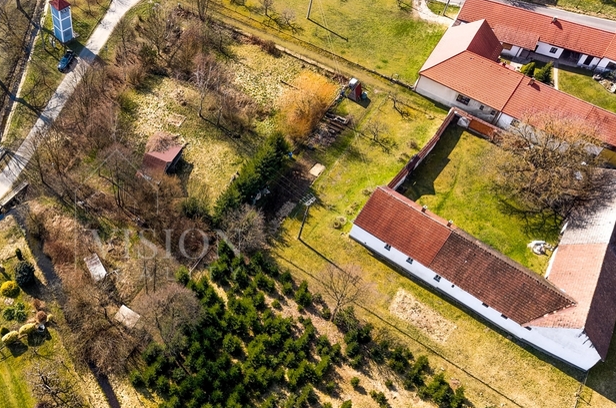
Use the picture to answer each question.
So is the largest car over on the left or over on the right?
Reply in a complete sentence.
The largest car is on the left side of the image.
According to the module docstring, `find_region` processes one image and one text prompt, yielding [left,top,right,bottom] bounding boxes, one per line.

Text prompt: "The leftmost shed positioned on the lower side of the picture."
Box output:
[84,253,106,282]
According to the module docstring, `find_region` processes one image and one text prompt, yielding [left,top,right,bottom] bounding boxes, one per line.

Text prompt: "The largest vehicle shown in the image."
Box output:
[56,43,77,69]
